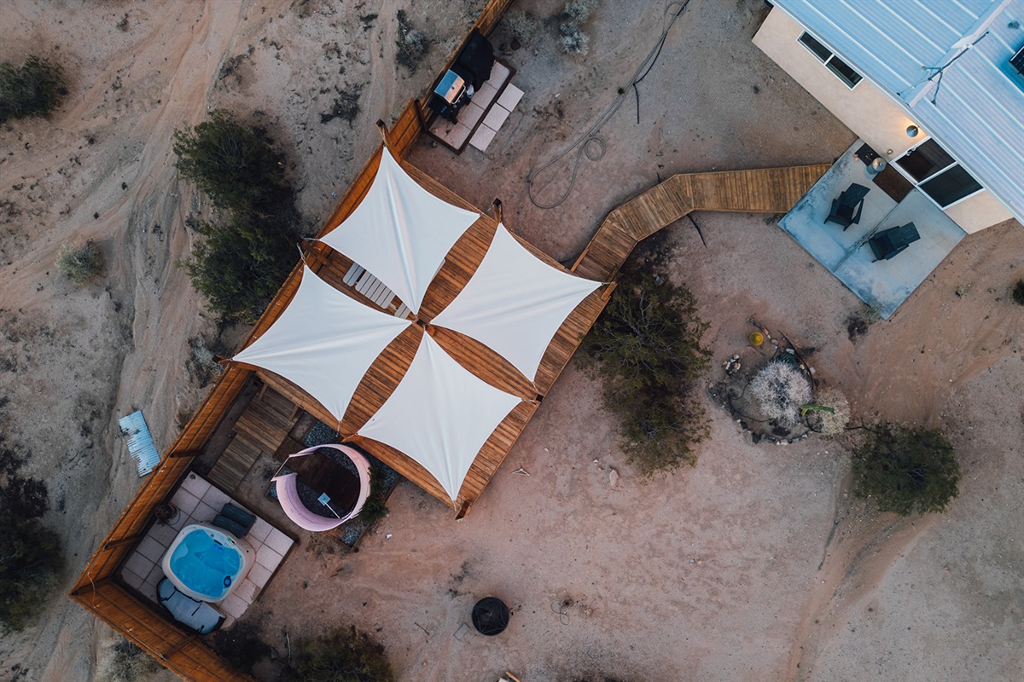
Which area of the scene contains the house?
top right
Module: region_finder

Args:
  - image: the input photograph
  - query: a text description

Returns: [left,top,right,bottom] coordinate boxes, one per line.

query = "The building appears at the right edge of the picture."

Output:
[753,0,1024,233]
